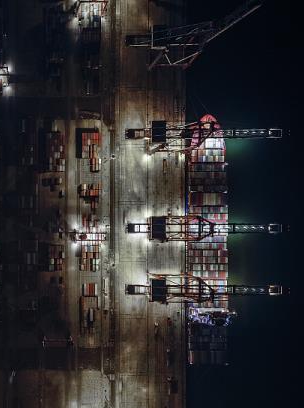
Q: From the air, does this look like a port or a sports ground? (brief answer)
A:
port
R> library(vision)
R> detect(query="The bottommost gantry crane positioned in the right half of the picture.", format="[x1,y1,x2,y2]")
[125,269,289,301]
